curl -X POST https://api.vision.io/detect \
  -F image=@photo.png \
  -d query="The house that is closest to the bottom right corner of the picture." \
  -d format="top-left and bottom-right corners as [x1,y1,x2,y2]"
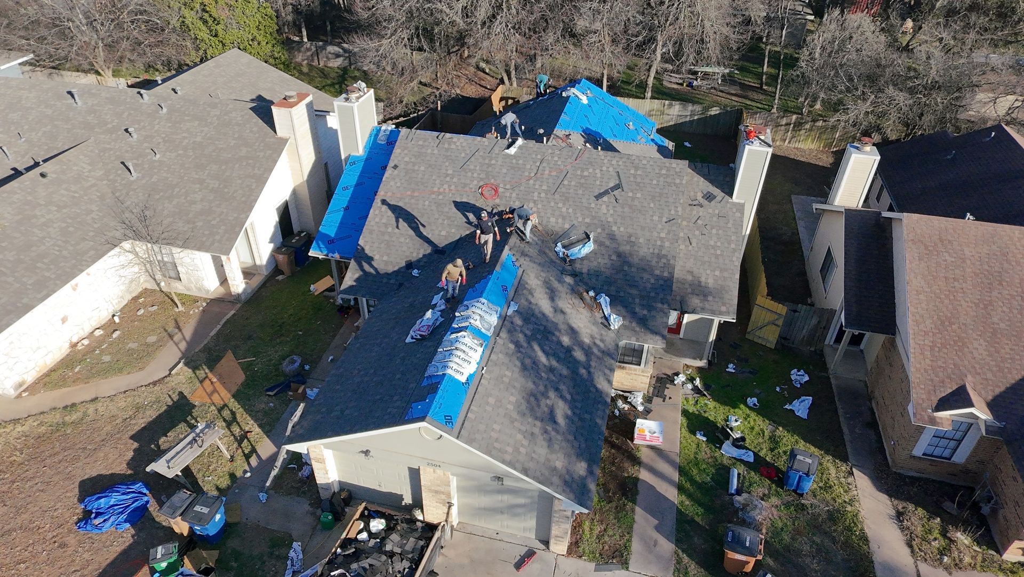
[801,110,1024,577]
